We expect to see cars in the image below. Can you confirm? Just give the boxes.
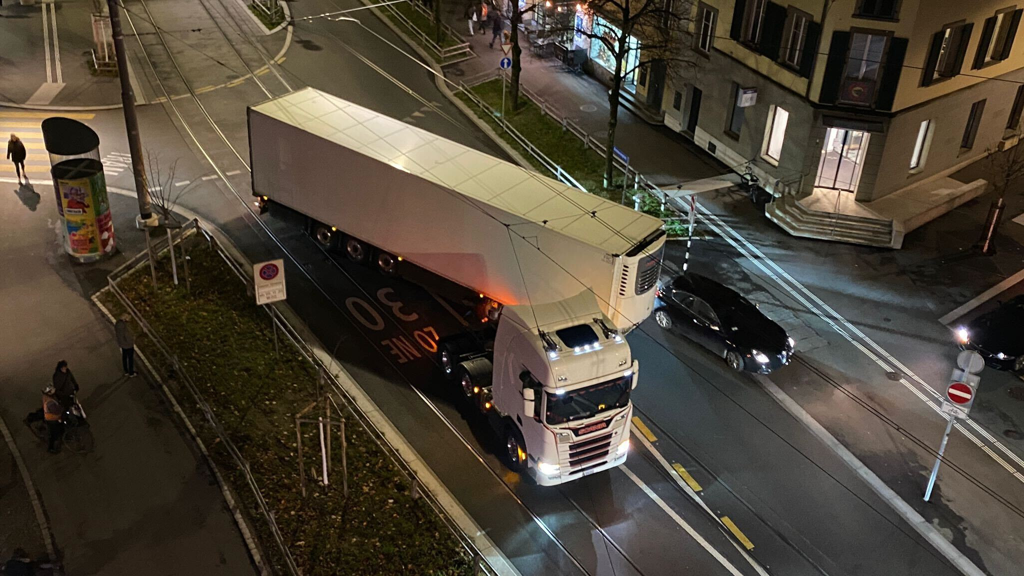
[955,287,1024,371]
[658,273,800,373]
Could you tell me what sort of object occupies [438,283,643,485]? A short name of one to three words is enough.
truck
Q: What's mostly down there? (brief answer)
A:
paved ground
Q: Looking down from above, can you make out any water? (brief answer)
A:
No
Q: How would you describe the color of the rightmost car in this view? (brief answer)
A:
black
